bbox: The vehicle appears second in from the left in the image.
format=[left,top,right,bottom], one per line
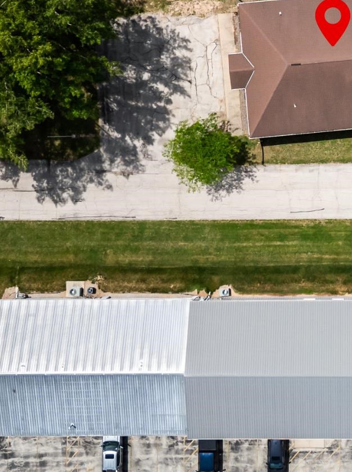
[201,440,222,472]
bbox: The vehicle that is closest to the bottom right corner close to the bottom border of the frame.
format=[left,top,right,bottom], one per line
[265,440,290,472]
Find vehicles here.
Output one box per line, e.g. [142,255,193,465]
[99,438,124,472]
[201,440,222,472]
[265,440,290,472]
